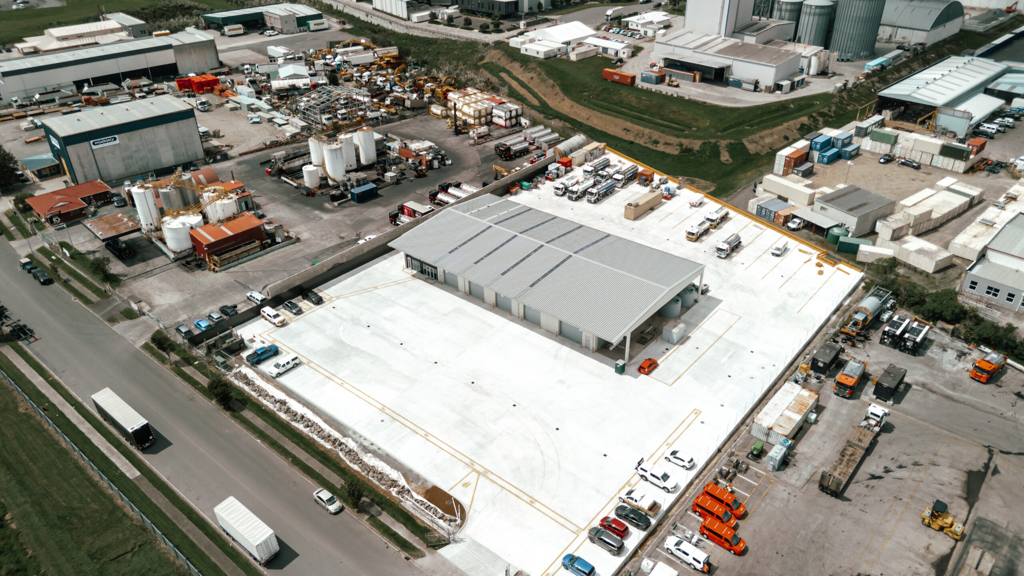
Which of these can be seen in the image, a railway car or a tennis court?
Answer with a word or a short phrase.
railway car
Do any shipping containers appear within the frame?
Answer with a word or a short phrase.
Yes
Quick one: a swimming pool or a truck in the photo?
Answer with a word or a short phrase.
truck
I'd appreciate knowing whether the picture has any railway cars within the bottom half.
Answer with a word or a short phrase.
No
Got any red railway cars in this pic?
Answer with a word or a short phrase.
No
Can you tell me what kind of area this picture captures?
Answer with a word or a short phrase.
industrial area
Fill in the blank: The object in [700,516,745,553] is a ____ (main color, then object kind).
orange van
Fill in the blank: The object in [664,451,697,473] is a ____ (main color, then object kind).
white car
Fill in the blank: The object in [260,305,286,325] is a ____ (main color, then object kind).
white vehicle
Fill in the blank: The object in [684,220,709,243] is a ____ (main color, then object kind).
white truck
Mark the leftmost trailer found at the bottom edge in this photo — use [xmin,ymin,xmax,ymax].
[214,496,279,565]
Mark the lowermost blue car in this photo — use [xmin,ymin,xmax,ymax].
[558,551,599,576]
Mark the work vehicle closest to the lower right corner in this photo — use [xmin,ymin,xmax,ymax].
[918,501,969,540]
